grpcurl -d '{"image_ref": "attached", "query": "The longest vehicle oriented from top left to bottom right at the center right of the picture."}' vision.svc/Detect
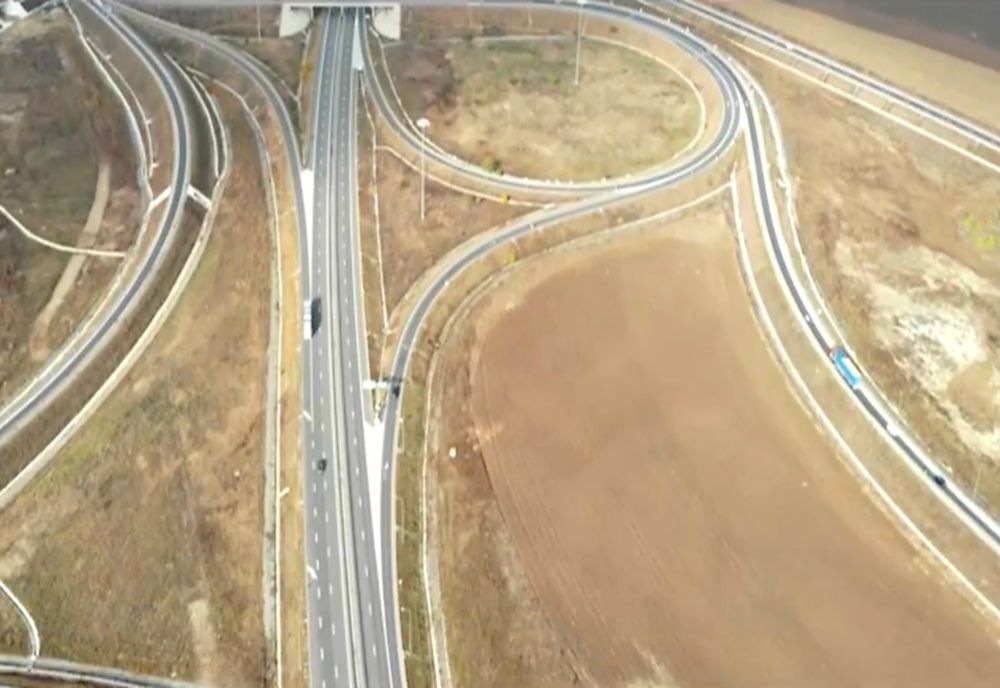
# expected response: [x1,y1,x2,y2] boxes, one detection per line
[831,355,862,387]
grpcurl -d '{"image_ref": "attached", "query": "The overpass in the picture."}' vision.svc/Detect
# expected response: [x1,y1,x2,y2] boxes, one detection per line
[280,1,405,40]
